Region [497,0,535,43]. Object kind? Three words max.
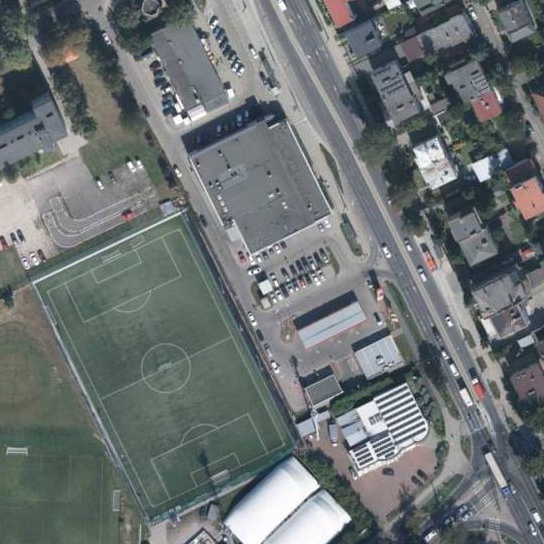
house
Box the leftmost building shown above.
[0,116,44,172]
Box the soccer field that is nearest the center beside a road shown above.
[34,213,297,522]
